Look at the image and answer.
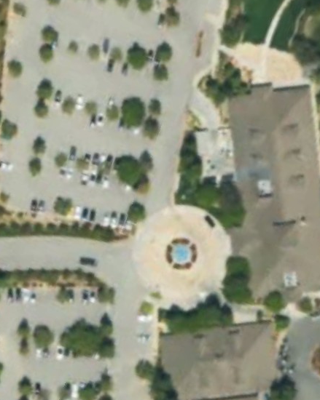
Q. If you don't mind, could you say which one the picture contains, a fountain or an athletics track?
fountain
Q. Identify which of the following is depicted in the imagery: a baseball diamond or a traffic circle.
traffic circle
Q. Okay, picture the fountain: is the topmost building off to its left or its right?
on its right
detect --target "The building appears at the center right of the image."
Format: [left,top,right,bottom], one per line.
[227,84,320,298]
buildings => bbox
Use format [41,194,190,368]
[227,84,320,298]
[161,323,279,400]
